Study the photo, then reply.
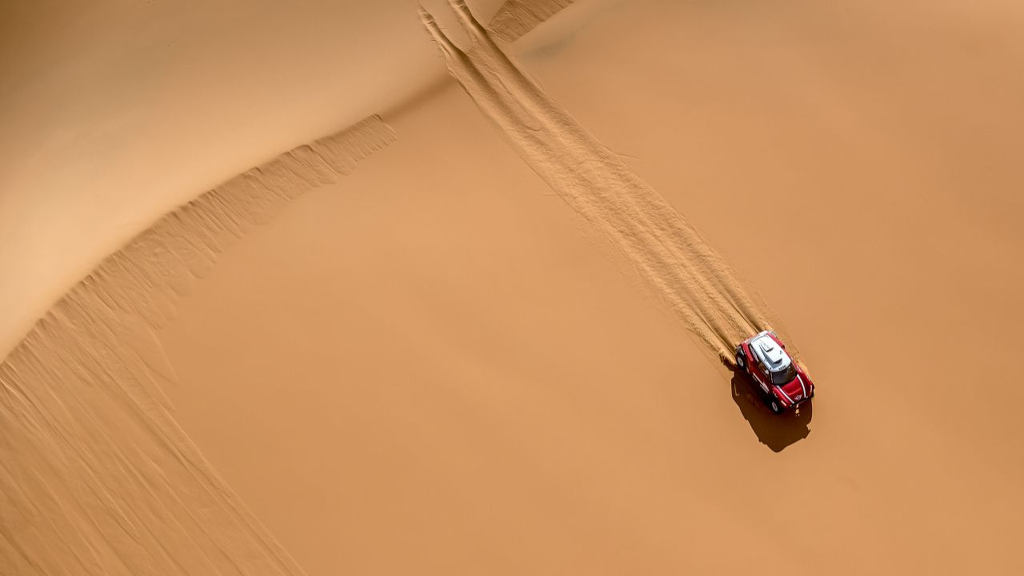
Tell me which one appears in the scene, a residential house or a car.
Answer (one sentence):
The image shows a car.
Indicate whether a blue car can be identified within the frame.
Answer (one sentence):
No, the frame has no blue car in it.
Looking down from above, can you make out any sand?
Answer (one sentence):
Yes, the picture does contain sand.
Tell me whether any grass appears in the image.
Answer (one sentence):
No, there is no grass in the image.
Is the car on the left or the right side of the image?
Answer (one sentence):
The car sits on the right side.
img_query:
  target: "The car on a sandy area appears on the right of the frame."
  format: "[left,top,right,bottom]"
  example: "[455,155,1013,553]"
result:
[731,330,812,415]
